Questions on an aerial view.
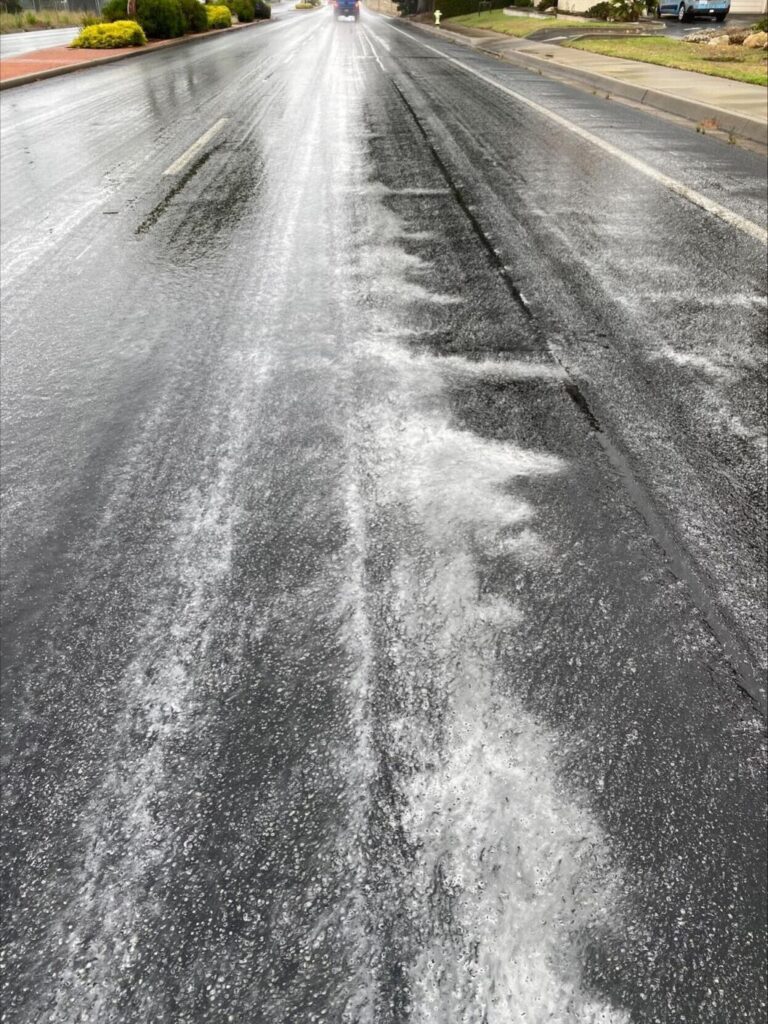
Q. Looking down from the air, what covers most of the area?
paved ground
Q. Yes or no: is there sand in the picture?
No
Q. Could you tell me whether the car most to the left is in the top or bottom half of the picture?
top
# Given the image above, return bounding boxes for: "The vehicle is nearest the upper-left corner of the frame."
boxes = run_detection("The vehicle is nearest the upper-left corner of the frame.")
[332,0,360,21]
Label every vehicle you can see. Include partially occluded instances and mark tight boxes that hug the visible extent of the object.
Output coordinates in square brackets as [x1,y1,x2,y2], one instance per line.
[332,0,360,21]
[652,0,735,22]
